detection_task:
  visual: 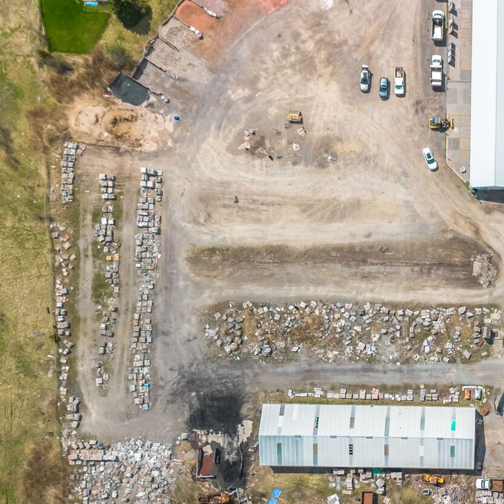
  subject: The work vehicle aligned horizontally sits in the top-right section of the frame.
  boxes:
[426,118,459,131]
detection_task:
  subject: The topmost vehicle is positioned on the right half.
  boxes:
[432,10,445,45]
